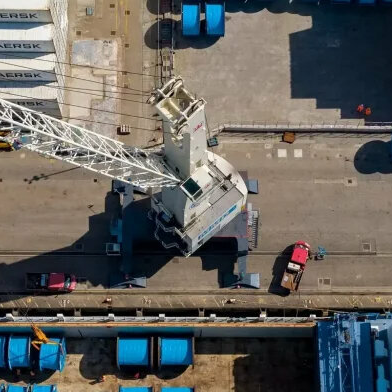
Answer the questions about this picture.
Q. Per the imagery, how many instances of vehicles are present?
2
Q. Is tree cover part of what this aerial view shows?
No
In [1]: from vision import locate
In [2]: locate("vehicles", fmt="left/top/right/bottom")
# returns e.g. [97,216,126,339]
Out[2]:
[24,270,75,290]
[285,242,309,291]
